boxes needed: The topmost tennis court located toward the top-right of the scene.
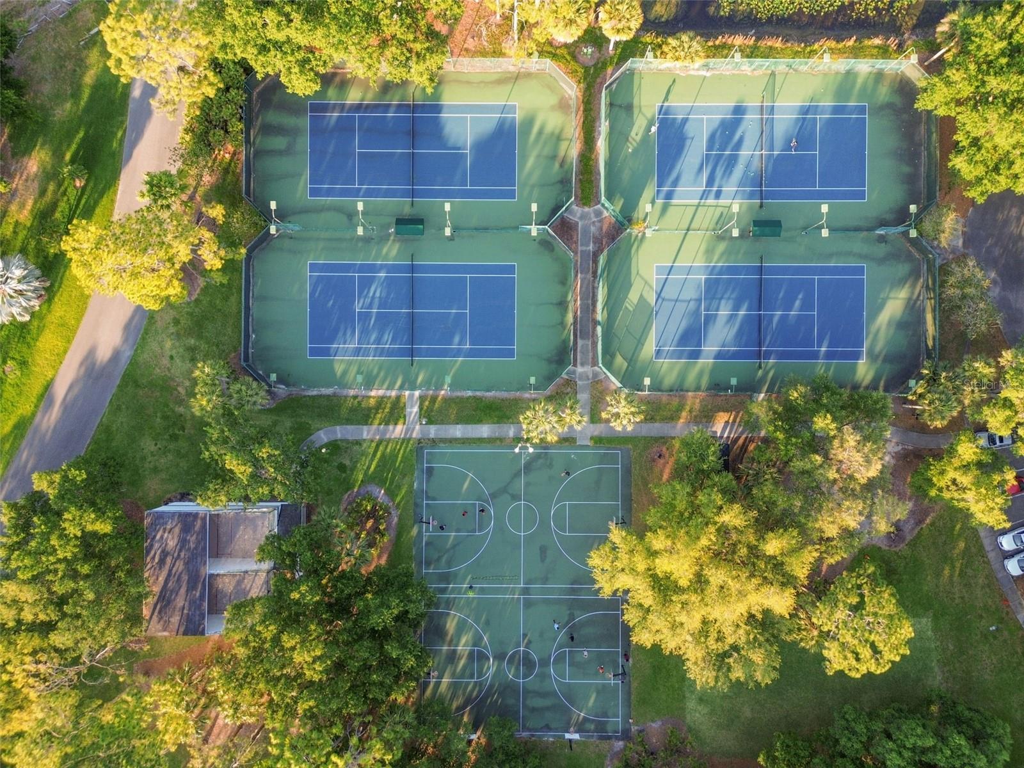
[601,73,922,230]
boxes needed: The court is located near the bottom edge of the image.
[413,591,632,741]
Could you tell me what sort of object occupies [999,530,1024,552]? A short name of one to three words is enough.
car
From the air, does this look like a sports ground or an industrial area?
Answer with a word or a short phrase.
sports ground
